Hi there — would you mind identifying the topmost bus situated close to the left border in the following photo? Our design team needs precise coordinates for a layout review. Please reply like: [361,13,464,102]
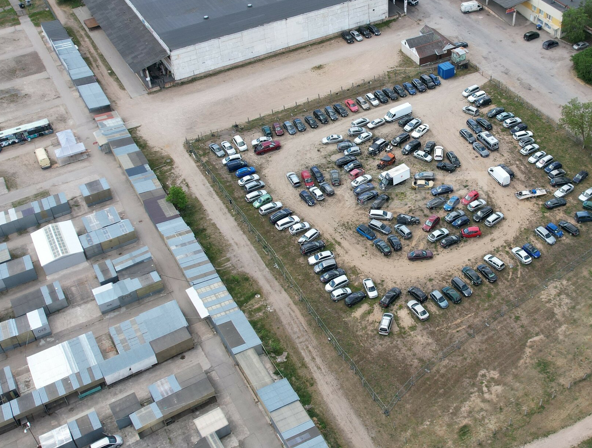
[0,119,58,152]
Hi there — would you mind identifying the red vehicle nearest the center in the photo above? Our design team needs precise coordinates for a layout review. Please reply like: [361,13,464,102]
[299,169,315,190]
